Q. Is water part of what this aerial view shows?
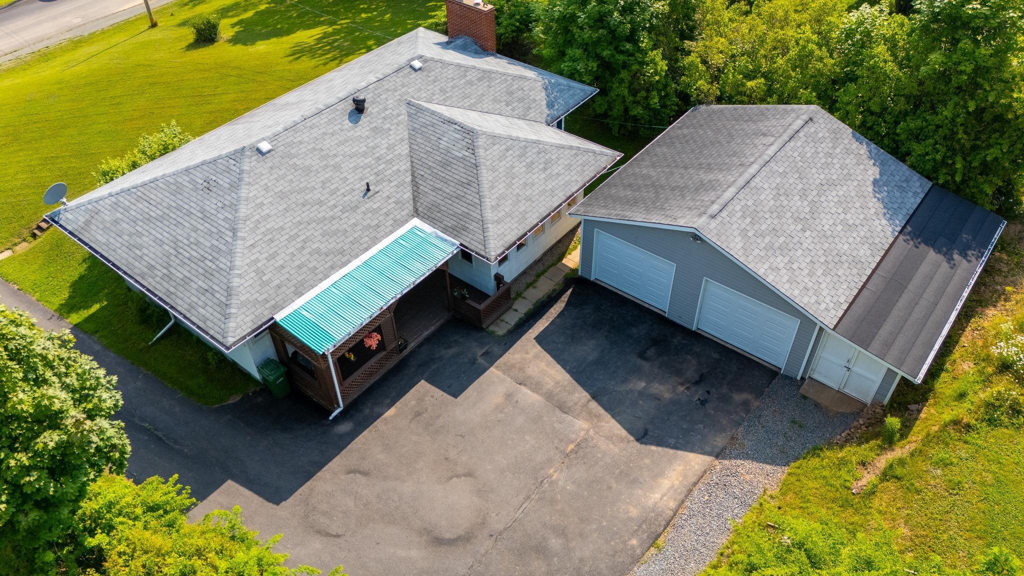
No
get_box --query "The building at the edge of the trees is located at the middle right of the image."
[569,105,1008,403]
